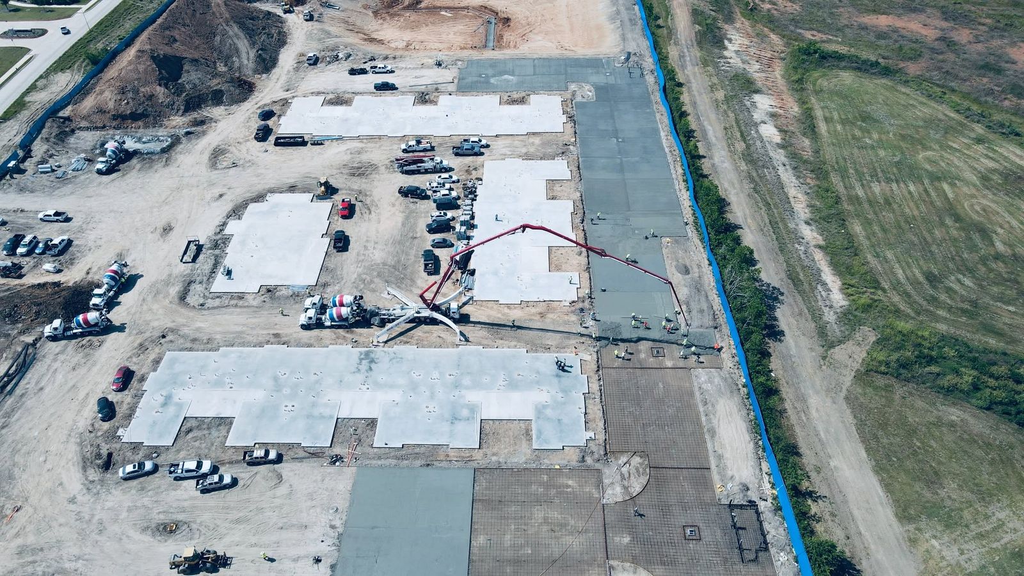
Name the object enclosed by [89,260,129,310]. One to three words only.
truck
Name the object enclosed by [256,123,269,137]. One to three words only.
vehicle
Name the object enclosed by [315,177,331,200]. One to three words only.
work vehicle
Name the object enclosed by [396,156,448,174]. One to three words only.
vehicle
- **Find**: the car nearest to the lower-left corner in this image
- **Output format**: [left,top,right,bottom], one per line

[118,461,157,482]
